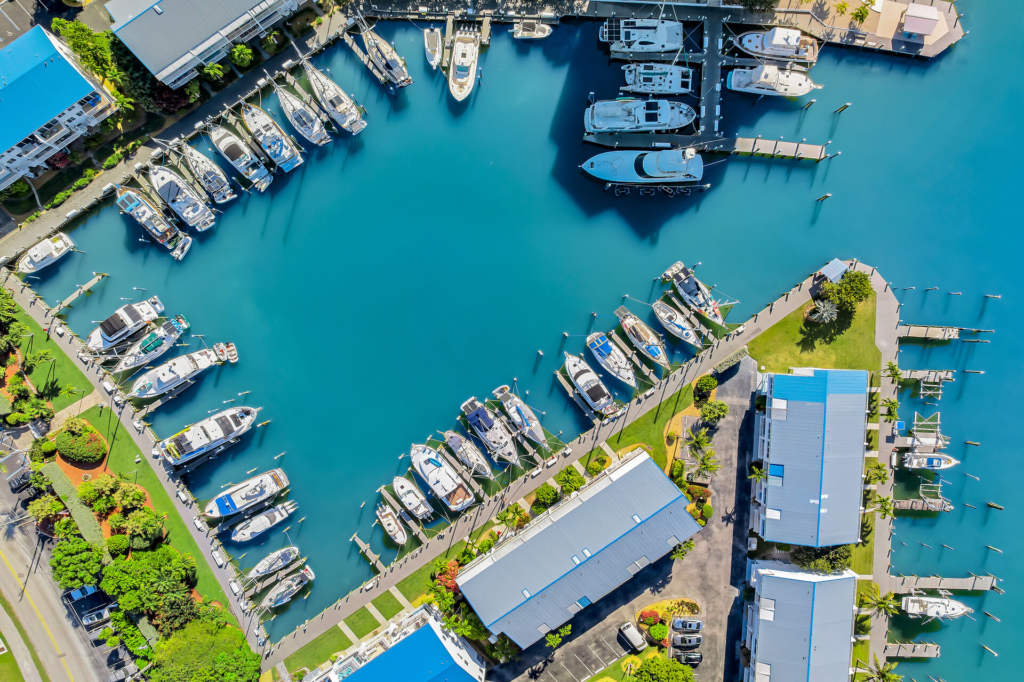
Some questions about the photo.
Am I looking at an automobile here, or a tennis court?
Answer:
automobile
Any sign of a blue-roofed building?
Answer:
Yes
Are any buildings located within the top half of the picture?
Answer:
Yes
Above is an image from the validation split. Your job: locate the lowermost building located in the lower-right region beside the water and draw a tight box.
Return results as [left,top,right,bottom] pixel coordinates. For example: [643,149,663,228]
[739,553,855,682]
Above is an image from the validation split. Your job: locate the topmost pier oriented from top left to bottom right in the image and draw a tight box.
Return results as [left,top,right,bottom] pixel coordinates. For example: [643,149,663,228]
[342,31,387,82]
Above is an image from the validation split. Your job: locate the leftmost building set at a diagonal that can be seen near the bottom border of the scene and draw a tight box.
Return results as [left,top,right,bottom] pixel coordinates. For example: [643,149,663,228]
[459,450,702,650]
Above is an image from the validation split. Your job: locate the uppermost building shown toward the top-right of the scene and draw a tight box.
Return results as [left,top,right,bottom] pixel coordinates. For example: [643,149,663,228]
[896,2,938,40]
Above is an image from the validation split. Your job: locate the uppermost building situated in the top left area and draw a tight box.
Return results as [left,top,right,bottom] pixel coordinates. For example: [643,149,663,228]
[103,0,326,95]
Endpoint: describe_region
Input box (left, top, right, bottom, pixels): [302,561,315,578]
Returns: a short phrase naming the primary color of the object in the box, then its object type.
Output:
white boat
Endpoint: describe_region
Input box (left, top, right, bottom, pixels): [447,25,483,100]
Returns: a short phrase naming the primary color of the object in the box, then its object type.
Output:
white boat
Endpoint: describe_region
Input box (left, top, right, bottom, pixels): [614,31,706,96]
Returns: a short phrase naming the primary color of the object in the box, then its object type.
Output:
blue boat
